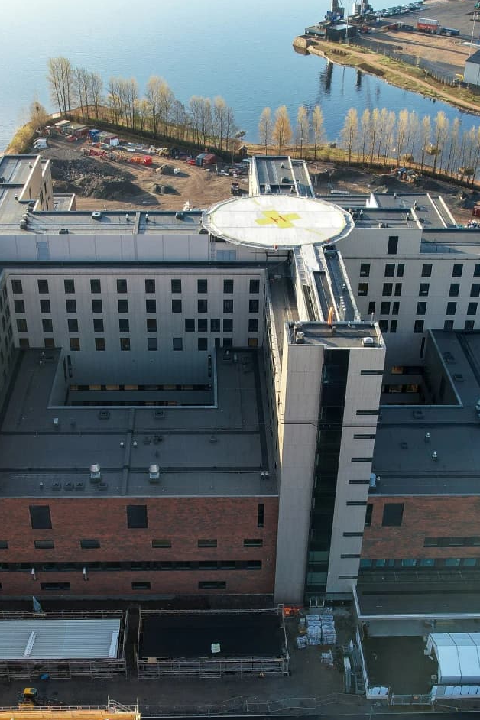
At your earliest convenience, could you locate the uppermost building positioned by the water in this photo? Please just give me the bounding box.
[328,22,361,42]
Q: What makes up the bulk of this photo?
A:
buildings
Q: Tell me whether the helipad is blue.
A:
No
